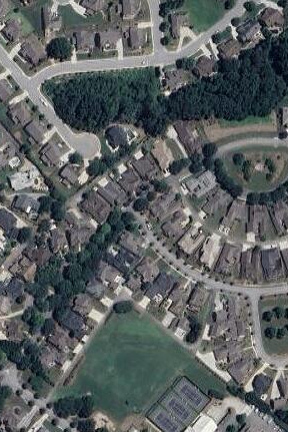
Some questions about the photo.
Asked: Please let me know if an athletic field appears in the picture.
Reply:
Yes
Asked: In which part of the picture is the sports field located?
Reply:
bottom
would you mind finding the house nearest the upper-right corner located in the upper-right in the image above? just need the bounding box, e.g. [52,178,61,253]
[260,4,285,32]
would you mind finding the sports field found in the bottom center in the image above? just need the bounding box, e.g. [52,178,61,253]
[51,308,220,418]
